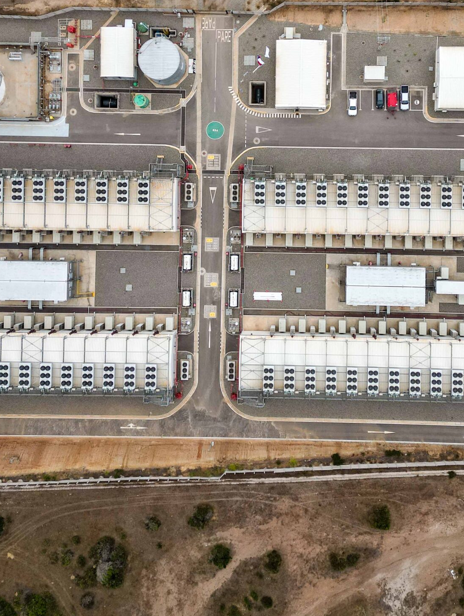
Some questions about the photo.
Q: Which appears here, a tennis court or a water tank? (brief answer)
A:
water tank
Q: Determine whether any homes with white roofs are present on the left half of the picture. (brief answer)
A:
Yes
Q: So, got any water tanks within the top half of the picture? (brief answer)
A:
Yes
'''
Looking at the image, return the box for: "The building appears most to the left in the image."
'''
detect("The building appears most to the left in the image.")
[0,247,74,310]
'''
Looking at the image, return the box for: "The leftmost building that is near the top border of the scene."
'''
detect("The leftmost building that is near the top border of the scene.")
[101,25,136,80]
